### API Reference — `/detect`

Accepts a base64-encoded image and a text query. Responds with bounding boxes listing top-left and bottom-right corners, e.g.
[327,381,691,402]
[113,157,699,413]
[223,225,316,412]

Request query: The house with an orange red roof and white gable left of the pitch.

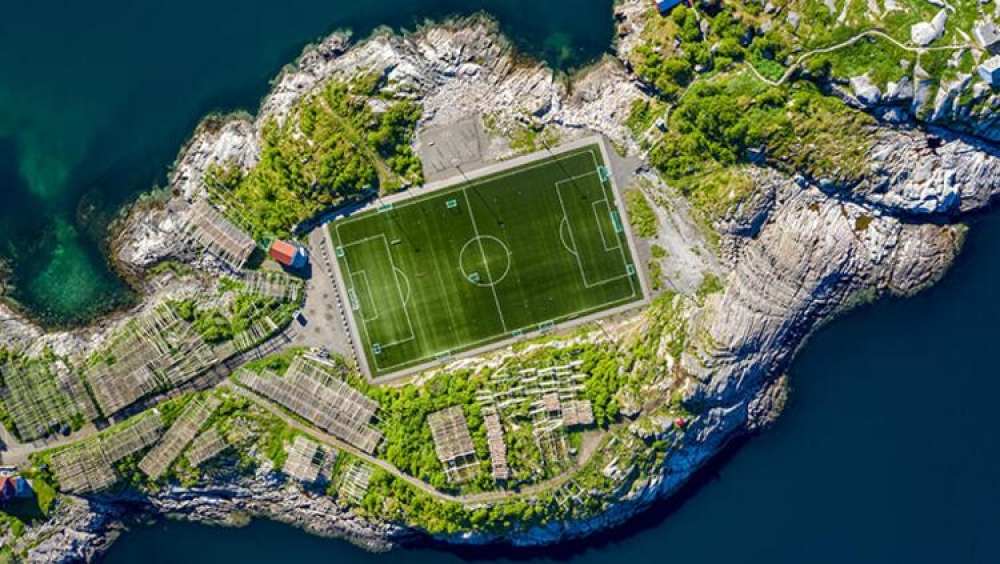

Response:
[266,235,304,268]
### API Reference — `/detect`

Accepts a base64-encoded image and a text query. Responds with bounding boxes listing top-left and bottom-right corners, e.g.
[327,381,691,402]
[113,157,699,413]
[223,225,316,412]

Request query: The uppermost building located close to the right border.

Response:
[966,12,1000,58]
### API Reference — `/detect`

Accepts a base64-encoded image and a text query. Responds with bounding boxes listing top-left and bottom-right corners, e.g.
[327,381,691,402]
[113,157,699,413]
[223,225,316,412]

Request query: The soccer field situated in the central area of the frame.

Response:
[320,135,651,384]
